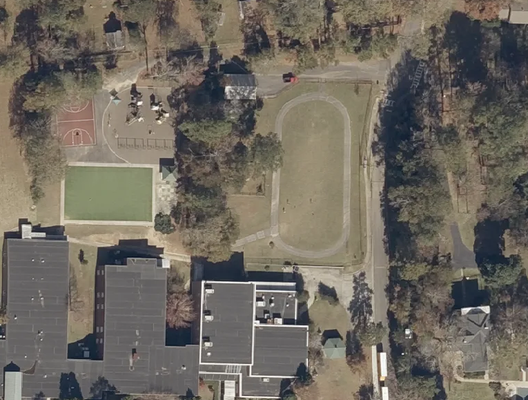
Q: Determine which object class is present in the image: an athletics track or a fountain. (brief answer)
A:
athletics track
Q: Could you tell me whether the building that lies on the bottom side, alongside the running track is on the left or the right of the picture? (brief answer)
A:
left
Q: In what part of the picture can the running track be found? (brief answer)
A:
center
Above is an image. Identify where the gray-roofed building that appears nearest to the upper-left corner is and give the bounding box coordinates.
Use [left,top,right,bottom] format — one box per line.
[103,29,123,50]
